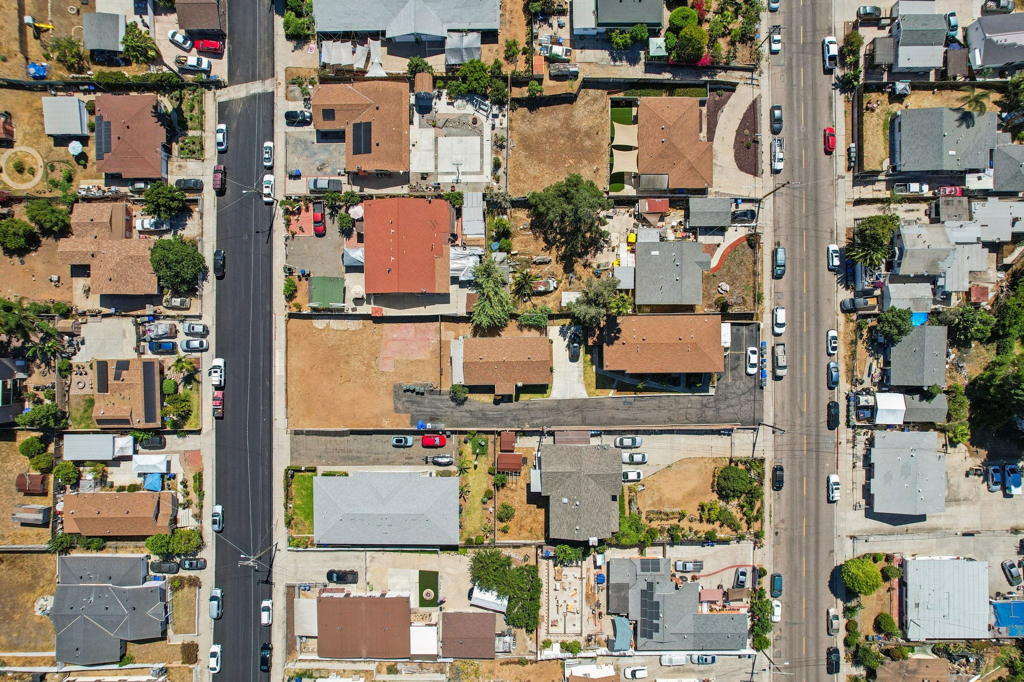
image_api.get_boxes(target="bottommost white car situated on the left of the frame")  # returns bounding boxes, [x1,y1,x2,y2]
[209,643,223,674]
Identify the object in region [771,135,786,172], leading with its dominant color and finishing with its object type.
white vehicle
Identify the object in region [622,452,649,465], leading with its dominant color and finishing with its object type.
white vehicle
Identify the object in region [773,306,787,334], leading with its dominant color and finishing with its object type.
white car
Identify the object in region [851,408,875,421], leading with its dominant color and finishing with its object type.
blue vehicle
